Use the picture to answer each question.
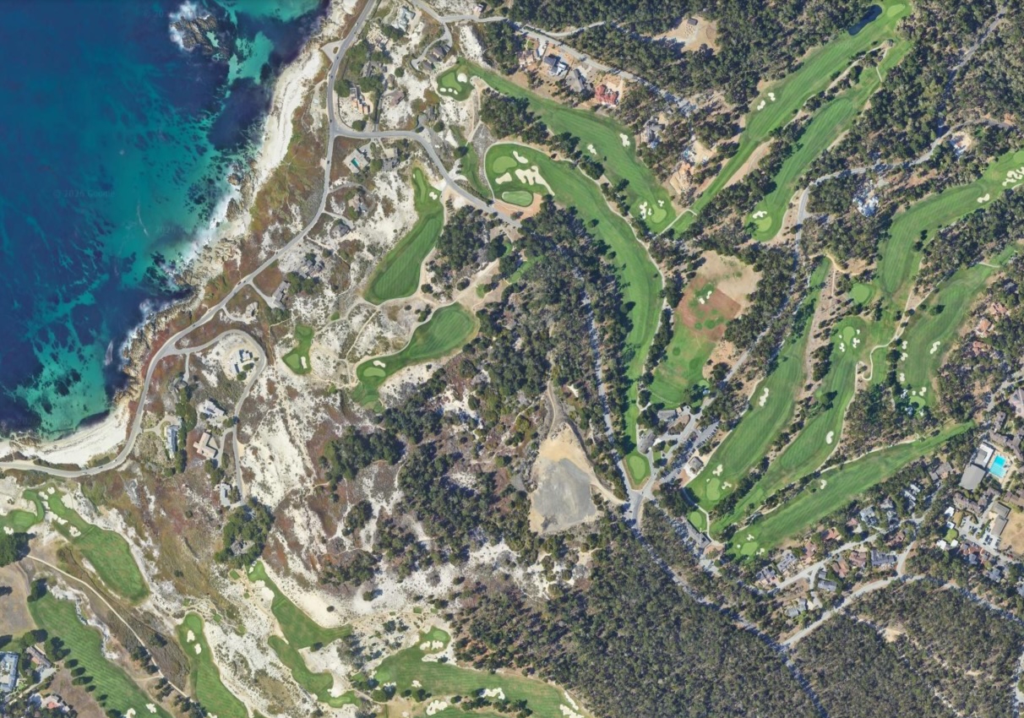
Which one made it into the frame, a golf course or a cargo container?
golf course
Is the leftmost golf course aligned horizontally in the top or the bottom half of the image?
bottom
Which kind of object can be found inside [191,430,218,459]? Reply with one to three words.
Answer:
house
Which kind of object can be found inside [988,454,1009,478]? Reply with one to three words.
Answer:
swimming pool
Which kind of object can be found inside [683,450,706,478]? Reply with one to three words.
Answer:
building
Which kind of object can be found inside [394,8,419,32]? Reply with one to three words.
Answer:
house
